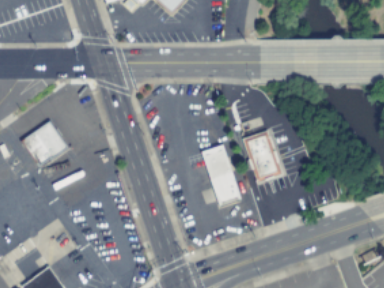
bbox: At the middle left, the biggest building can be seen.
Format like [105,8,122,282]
[22,122,71,167]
